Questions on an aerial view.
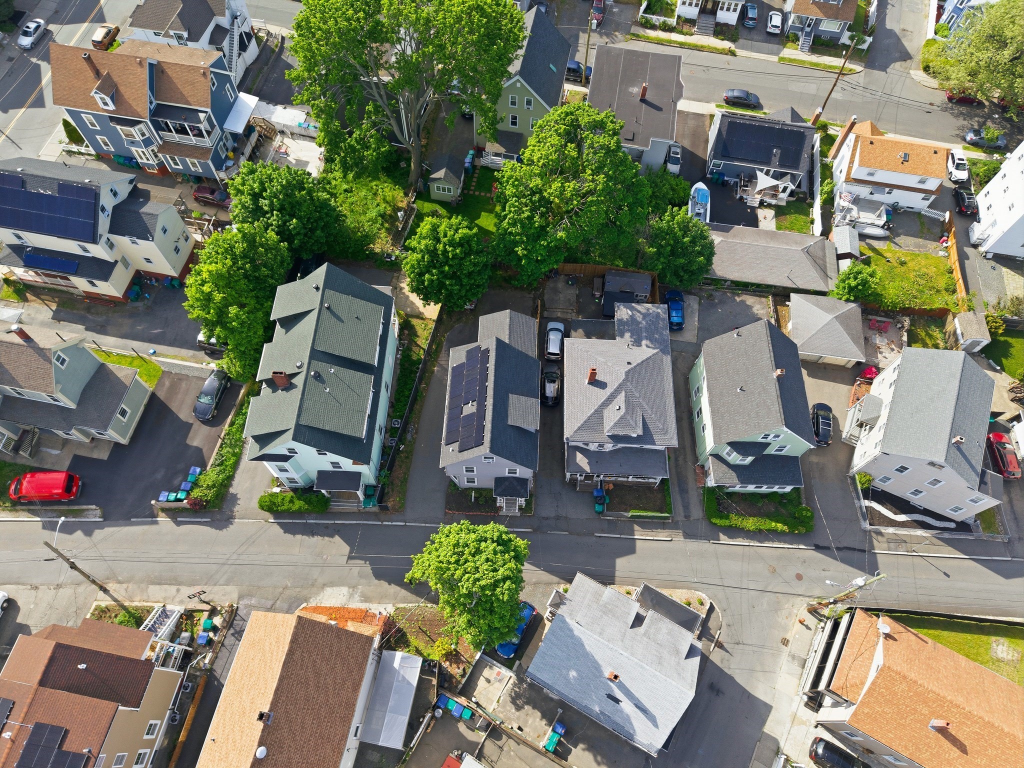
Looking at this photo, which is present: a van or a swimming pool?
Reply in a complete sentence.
Of the two, only a van appears.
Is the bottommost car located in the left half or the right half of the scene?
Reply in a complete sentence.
The bottommost car appears in the right half of the scene.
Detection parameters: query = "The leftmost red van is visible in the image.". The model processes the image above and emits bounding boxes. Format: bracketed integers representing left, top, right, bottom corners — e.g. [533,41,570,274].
[8,468,81,499]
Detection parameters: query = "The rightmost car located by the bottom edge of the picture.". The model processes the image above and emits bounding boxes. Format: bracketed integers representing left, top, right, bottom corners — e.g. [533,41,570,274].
[806,734,874,768]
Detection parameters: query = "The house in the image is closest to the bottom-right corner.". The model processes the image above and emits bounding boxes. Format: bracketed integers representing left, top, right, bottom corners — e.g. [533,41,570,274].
[797,609,1024,768]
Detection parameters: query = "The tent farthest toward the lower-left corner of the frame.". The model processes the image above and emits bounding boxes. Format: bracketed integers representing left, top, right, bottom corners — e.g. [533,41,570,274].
[359,650,425,750]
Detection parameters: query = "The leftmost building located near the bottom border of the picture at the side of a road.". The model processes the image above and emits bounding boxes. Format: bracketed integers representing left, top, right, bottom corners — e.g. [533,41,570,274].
[0,602,184,768]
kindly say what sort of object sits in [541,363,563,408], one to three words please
car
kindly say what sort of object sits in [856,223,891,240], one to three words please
boat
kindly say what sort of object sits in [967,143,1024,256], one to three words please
house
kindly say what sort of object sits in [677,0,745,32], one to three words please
house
